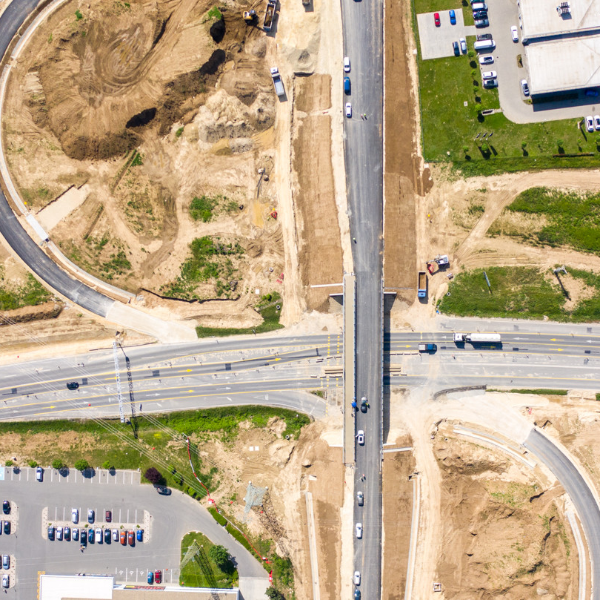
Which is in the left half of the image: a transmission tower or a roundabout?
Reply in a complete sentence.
Looking in the left half of the image, you will find a transmission tower.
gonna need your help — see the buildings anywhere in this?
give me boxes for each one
[514,0,600,100]
[39,575,240,600]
